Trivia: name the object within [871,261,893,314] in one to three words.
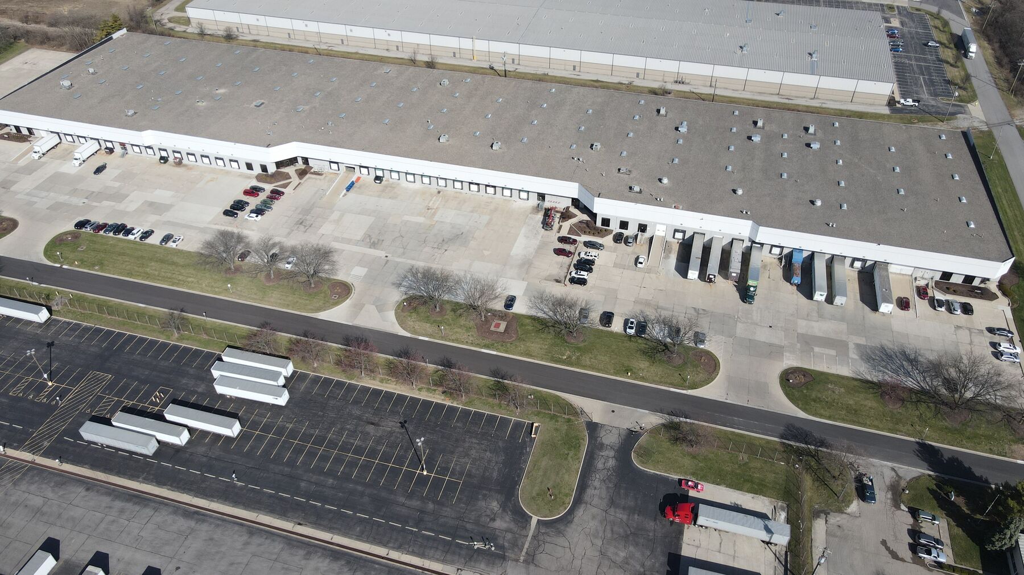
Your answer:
trailer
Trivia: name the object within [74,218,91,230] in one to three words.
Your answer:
vehicle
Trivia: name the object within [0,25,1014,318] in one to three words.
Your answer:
warehouse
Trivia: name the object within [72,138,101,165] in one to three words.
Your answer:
truck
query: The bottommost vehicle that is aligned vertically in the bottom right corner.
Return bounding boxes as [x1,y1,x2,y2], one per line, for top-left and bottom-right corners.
[860,468,878,505]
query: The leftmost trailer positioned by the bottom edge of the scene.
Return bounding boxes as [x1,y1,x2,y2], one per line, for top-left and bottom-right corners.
[17,549,58,575]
